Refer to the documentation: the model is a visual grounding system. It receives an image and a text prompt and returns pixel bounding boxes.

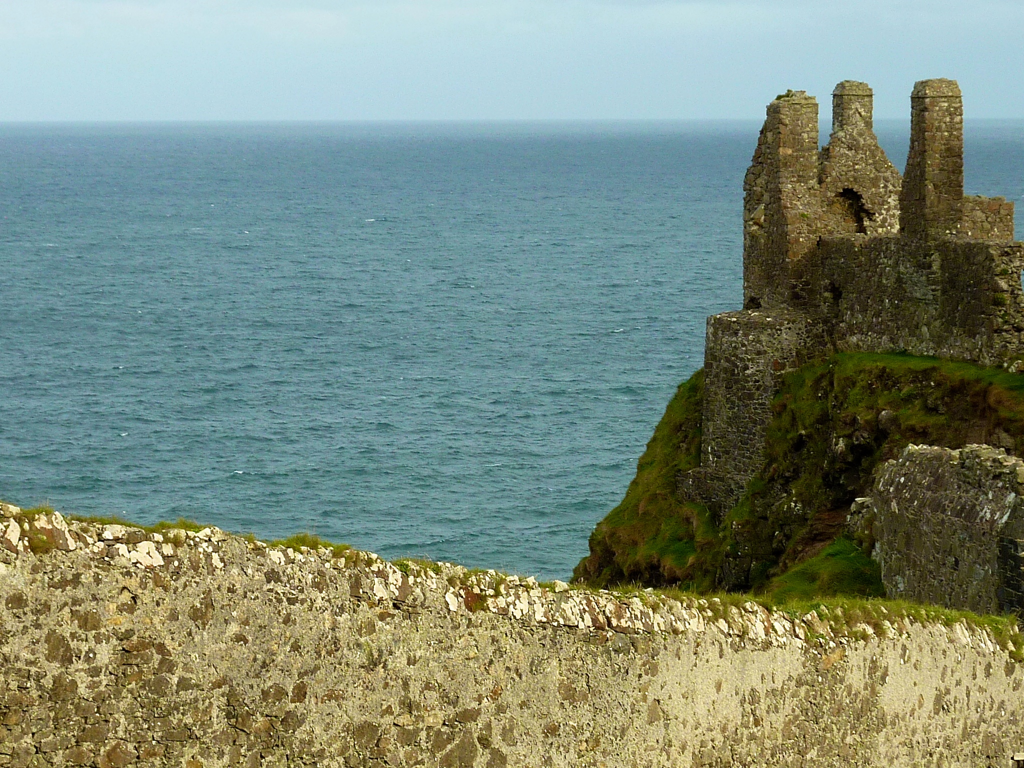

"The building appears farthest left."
[676,303,852,521]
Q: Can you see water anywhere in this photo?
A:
Yes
